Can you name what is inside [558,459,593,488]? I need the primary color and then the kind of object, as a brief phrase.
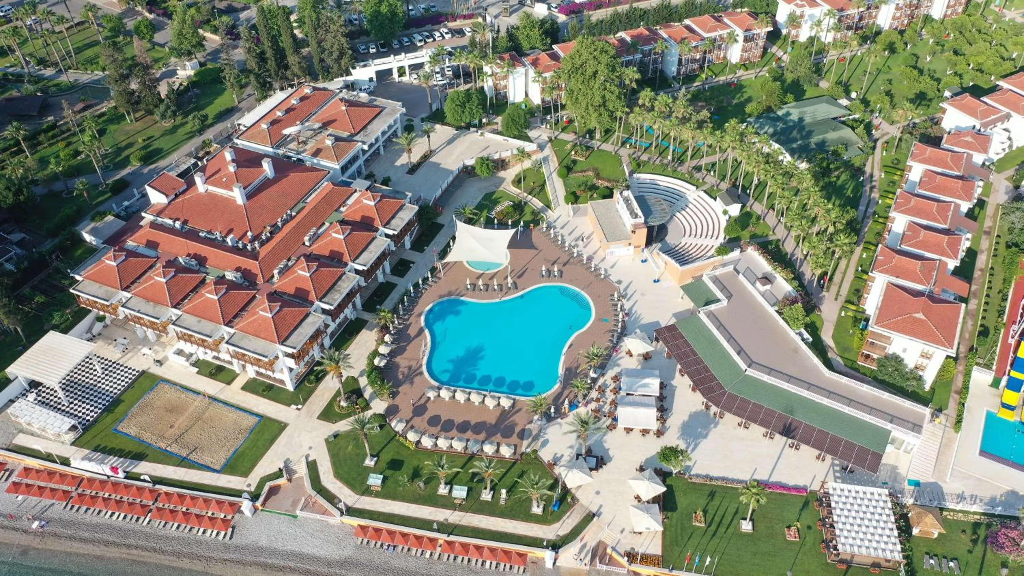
white umbrella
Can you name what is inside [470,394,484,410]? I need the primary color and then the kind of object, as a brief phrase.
white umbrella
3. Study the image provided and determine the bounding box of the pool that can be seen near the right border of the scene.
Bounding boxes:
[978,408,1024,472]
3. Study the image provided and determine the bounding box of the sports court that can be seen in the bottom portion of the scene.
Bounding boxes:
[113,379,261,473]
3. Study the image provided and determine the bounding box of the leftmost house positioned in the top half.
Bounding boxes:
[0,97,47,125]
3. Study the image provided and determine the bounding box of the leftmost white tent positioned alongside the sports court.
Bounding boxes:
[3,395,83,441]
